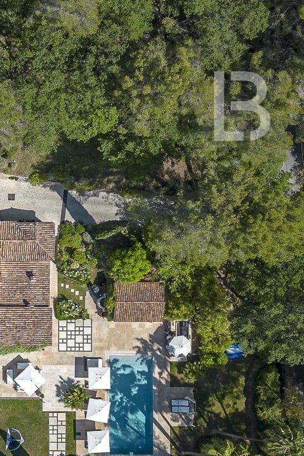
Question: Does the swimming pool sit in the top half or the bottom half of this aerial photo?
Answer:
bottom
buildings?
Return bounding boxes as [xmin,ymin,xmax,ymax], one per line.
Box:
[0,221,56,347]
[107,282,165,322]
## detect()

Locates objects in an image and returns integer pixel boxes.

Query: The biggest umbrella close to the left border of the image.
[13,364,46,396]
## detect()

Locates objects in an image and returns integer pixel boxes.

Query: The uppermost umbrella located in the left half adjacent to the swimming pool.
[87,367,110,390]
